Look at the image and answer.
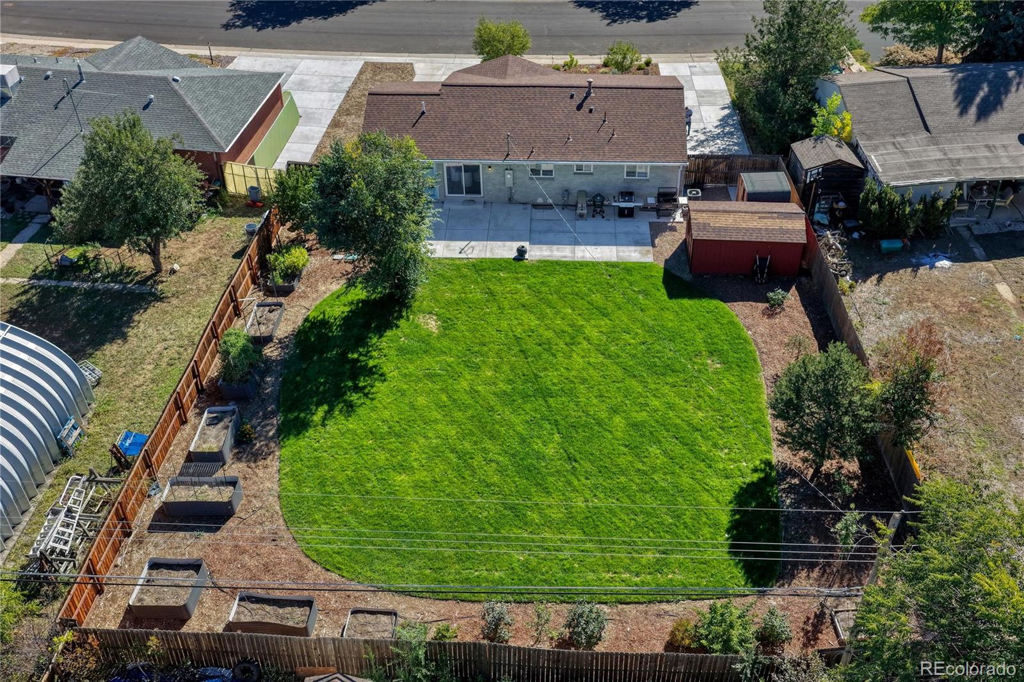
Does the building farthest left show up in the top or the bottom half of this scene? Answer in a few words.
bottom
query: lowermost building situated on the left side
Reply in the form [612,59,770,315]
[0,324,105,566]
